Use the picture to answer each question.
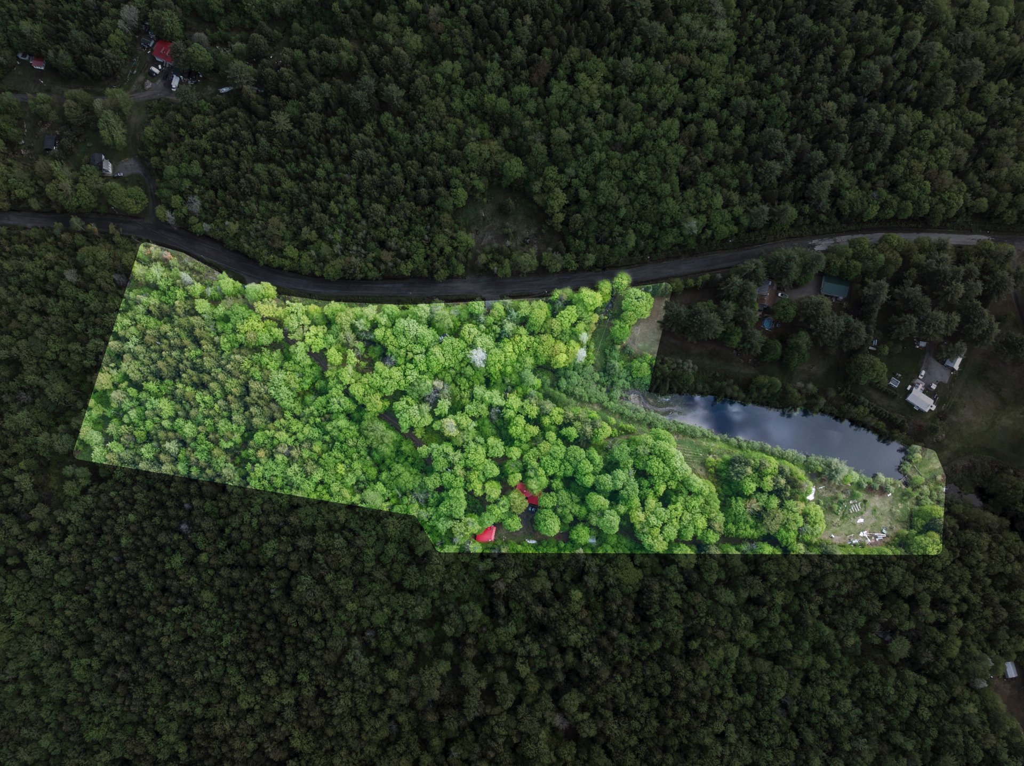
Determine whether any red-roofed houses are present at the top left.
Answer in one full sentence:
Yes, I can see a red-roofed house at the top left.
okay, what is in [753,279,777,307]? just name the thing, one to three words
house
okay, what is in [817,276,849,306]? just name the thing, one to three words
house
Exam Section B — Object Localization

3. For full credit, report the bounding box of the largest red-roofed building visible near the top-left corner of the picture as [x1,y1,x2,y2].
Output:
[150,40,179,72]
